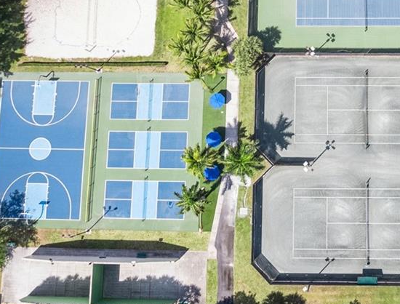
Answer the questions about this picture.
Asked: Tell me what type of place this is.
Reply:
sports ground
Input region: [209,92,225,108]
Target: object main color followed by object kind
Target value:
blue umbrella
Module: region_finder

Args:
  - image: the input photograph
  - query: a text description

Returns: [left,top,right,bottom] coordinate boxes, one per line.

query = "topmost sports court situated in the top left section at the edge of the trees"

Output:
[24,0,158,58]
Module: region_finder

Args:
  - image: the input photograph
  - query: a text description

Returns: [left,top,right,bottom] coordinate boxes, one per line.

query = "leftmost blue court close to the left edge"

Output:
[0,81,89,221]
